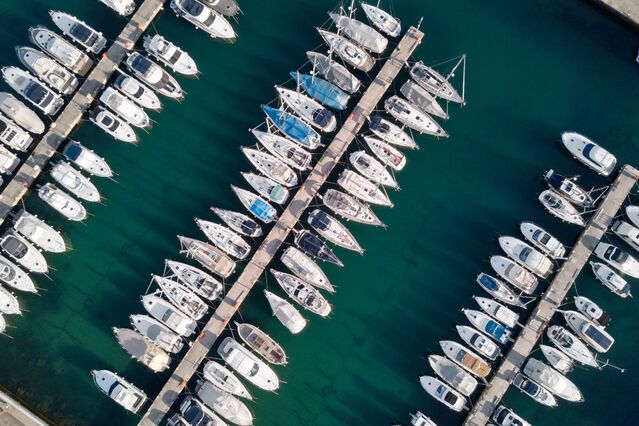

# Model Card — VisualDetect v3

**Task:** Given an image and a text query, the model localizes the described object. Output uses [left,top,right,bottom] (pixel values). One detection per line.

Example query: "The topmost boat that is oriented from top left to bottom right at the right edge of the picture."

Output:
[559,133,623,179]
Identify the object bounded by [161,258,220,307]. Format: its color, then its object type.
white boat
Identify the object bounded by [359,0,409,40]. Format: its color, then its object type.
white boat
